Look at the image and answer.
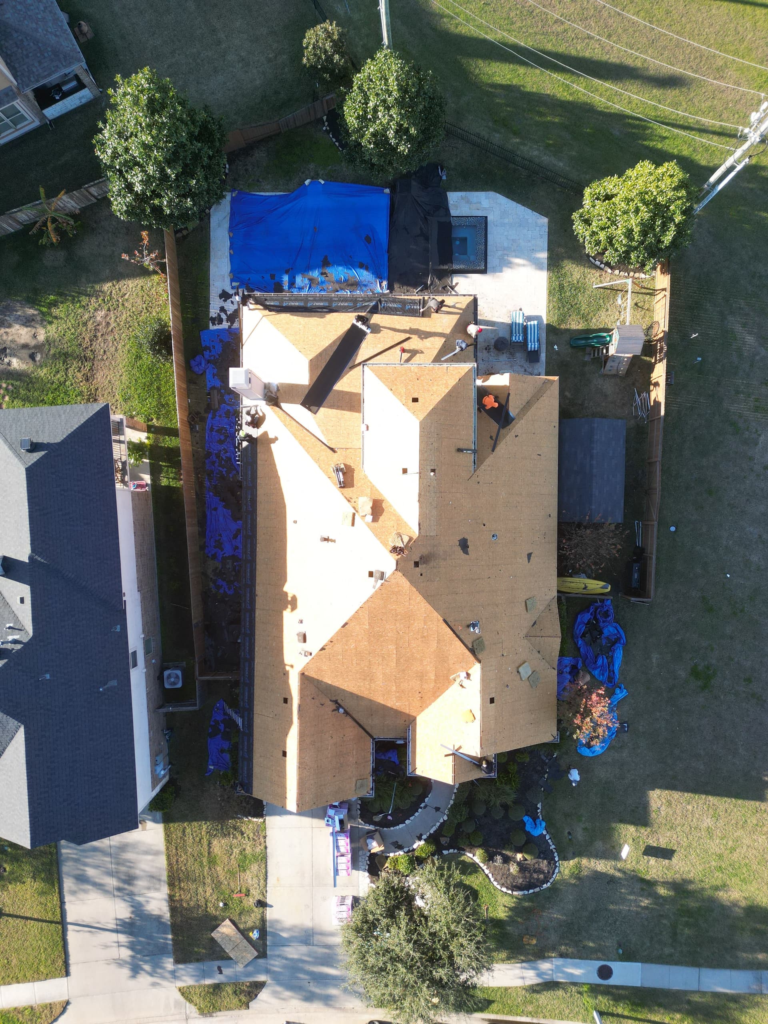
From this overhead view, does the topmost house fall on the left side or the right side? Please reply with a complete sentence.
It is on the left.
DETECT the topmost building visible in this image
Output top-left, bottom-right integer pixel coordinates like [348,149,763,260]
[0,0,104,146]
